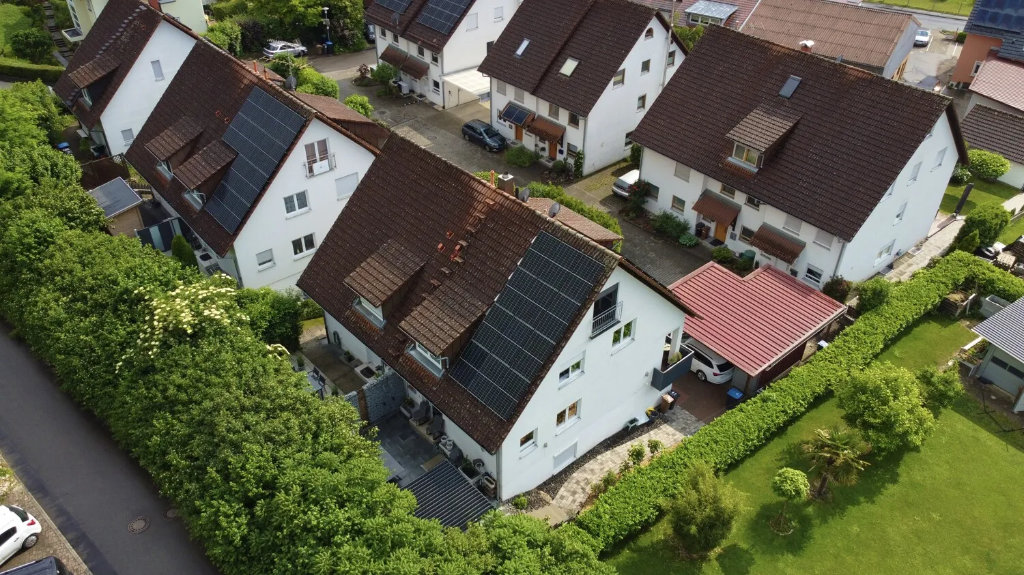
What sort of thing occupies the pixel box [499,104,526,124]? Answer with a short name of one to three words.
solar panel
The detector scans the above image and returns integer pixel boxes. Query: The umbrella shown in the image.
[953,176,996,218]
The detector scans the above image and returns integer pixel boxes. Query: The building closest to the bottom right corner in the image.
[973,297,1024,393]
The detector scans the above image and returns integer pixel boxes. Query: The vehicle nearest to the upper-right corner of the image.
[913,25,936,48]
